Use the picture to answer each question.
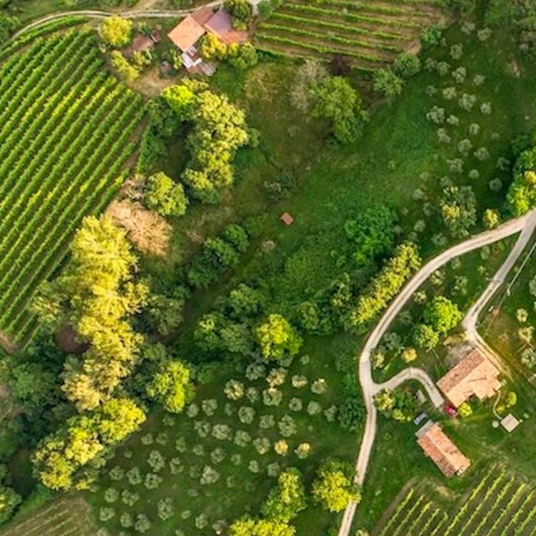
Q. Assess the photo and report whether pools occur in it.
No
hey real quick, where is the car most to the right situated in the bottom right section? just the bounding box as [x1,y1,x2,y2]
[444,403,459,416]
